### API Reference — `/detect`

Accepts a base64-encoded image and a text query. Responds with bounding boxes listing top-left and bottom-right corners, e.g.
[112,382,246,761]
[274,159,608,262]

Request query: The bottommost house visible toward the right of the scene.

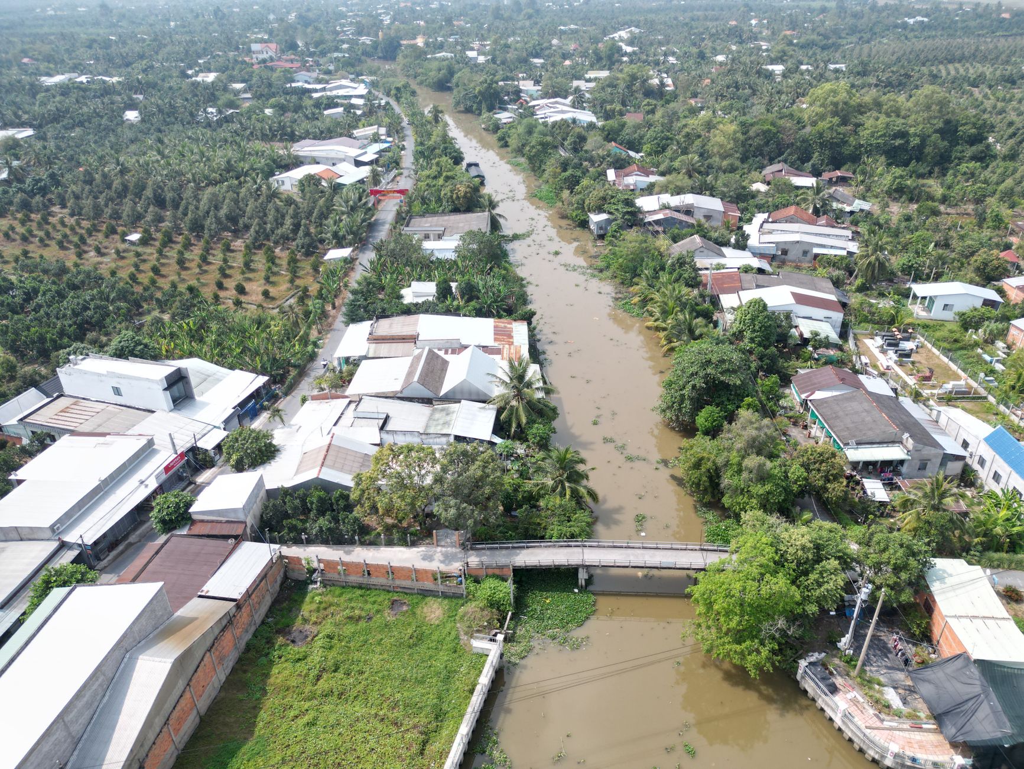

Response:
[915,558,1024,668]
